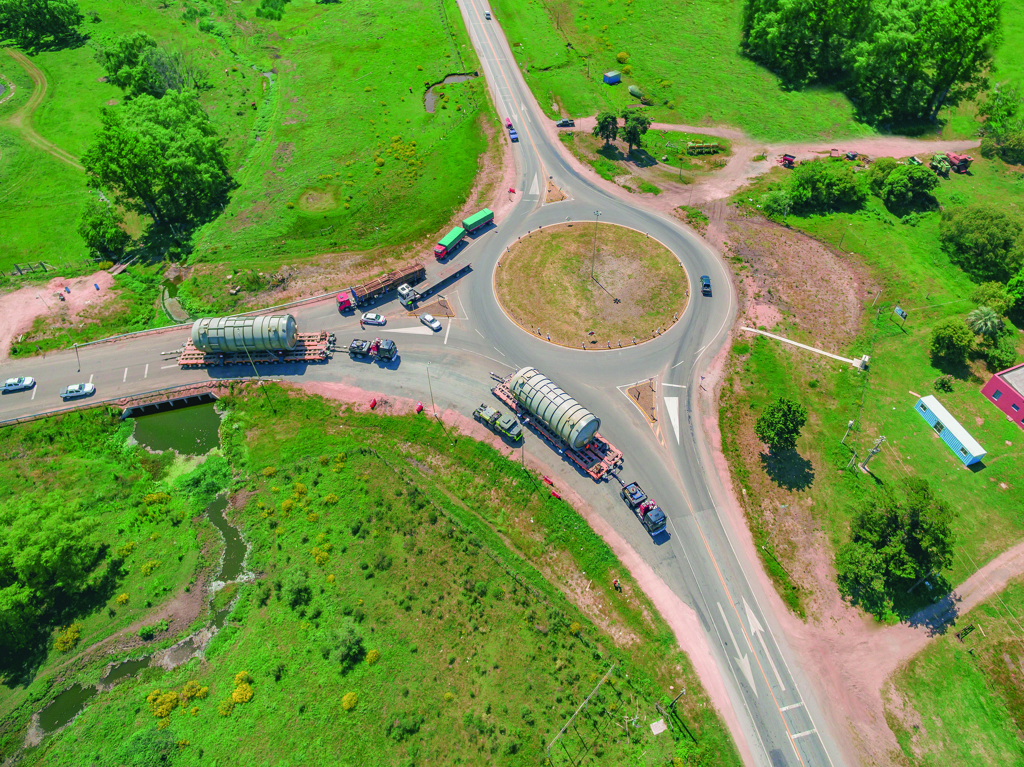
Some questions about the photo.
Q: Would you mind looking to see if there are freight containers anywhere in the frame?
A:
Yes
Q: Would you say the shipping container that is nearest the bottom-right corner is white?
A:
Yes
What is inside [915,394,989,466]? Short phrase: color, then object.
white shipping container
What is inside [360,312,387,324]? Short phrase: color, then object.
white vehicle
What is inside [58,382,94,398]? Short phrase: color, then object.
white vehicle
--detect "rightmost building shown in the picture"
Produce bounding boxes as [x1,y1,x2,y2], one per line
[981,364,1024,429]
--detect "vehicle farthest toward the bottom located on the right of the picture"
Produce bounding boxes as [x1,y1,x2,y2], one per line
[618,481,672,539]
